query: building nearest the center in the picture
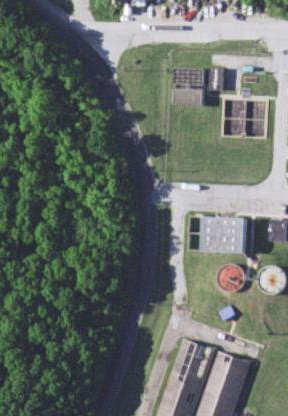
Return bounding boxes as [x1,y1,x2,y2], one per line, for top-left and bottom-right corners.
[200,217,245,254]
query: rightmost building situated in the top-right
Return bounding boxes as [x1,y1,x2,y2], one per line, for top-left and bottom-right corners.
[210,67,224,91]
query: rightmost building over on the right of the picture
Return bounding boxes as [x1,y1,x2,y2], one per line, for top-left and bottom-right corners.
[268,220,288,242]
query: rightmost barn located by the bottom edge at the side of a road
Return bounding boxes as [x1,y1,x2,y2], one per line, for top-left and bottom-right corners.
[199,352,250,416]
